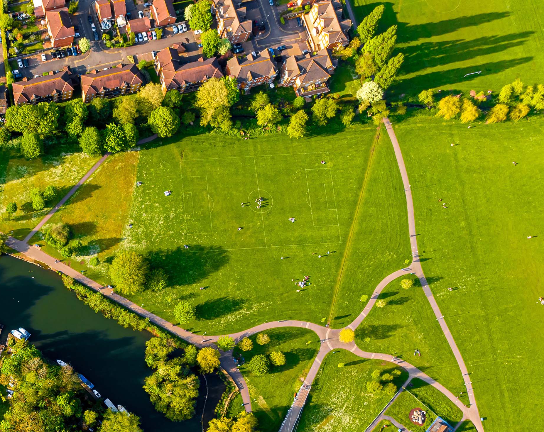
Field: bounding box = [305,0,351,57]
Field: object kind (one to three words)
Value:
building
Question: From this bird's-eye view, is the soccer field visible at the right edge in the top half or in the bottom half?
top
